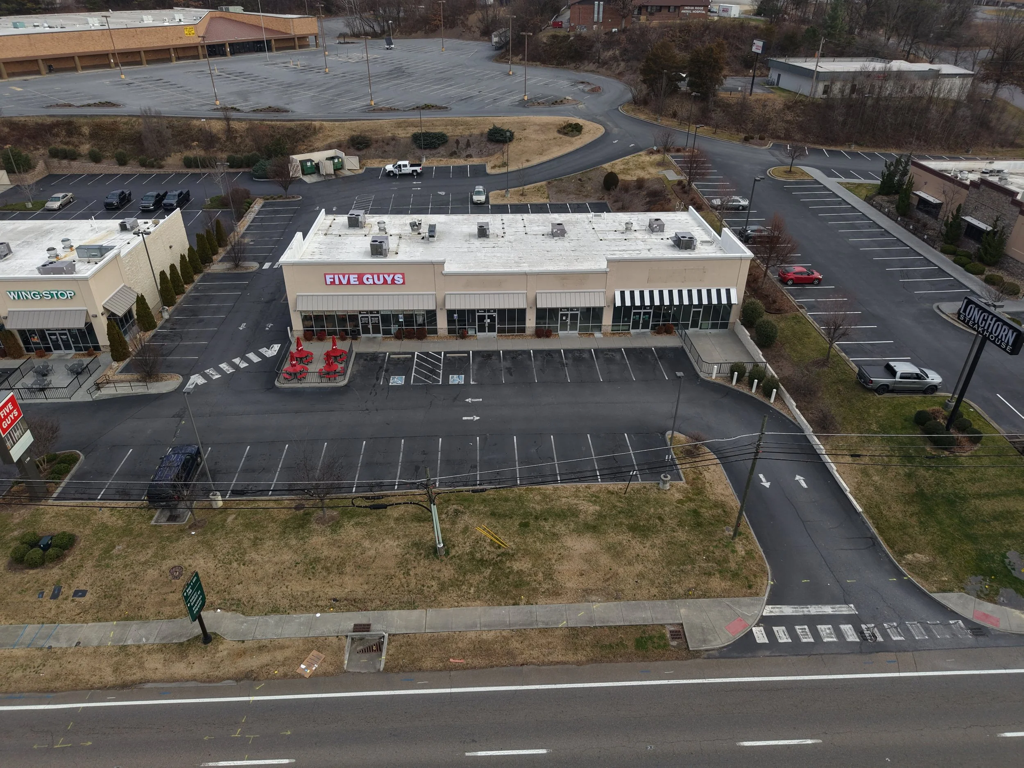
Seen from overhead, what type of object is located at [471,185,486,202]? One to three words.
car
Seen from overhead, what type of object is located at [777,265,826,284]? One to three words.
car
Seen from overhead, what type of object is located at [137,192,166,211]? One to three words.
vehicle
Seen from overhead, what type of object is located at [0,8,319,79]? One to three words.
building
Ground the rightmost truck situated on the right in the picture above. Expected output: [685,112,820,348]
[850,358,946,394]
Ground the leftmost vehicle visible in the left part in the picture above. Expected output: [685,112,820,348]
[43,193,74,208]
